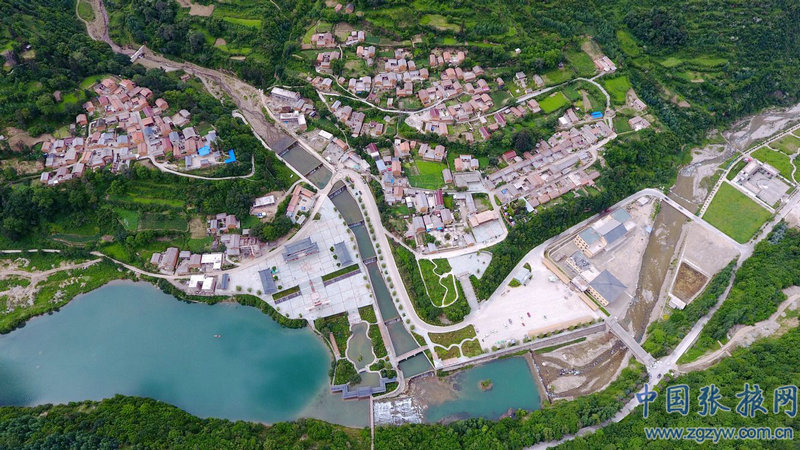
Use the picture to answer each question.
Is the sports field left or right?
right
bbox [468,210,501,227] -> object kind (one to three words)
house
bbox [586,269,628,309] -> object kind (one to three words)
building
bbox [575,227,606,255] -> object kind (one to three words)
building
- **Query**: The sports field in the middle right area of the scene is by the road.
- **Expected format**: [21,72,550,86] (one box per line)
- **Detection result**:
[703,184,770,242]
